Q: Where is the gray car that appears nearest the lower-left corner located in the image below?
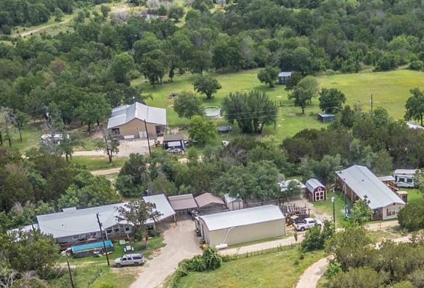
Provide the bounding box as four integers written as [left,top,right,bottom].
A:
[113,251,144,266]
